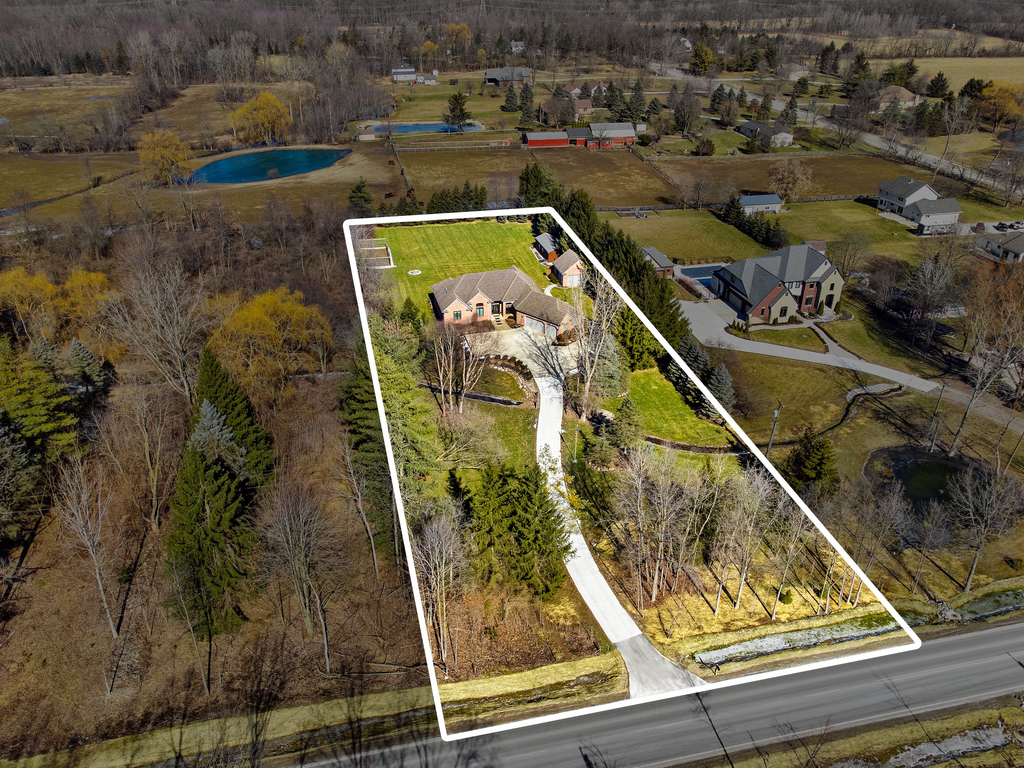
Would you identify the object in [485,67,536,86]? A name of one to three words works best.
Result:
house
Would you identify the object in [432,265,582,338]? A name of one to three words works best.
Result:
house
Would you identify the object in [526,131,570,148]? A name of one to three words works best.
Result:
barn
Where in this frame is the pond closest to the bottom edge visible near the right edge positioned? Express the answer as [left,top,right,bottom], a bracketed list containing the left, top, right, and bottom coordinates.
[861,446,1008,553]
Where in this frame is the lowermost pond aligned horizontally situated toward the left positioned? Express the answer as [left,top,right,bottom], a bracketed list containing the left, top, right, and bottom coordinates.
[193,149,351,185]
